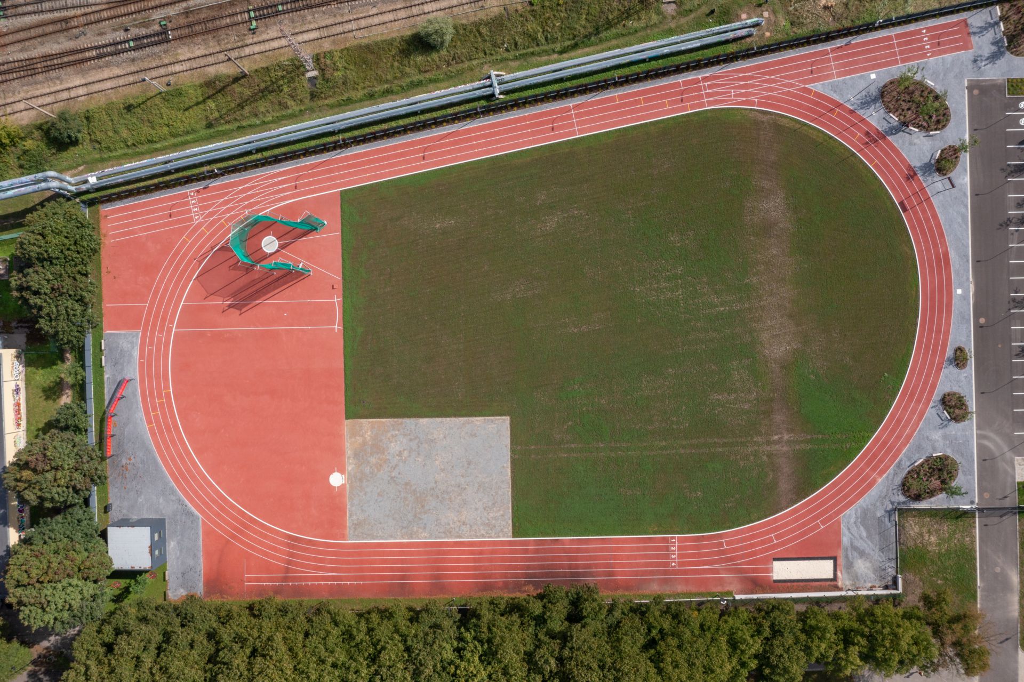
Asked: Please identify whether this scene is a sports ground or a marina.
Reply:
sports ground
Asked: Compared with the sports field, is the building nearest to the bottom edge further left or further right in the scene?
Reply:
left of it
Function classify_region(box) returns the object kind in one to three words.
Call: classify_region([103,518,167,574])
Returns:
building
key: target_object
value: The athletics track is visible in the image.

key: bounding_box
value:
[101,18,973,600]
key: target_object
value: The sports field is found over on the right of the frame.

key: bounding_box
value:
[340,108,919,538]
